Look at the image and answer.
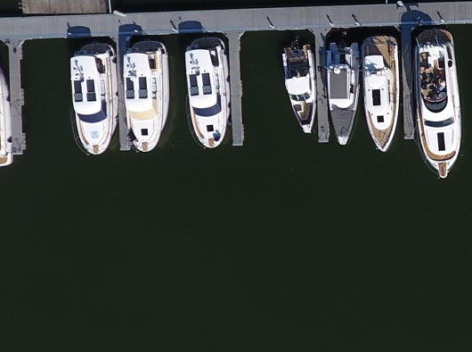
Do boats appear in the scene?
Yes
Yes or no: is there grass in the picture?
No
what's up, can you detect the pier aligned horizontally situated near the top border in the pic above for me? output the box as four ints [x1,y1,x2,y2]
[0,0,472,41]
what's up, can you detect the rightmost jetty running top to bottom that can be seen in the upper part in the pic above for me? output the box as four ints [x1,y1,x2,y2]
[393,26,417,139]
